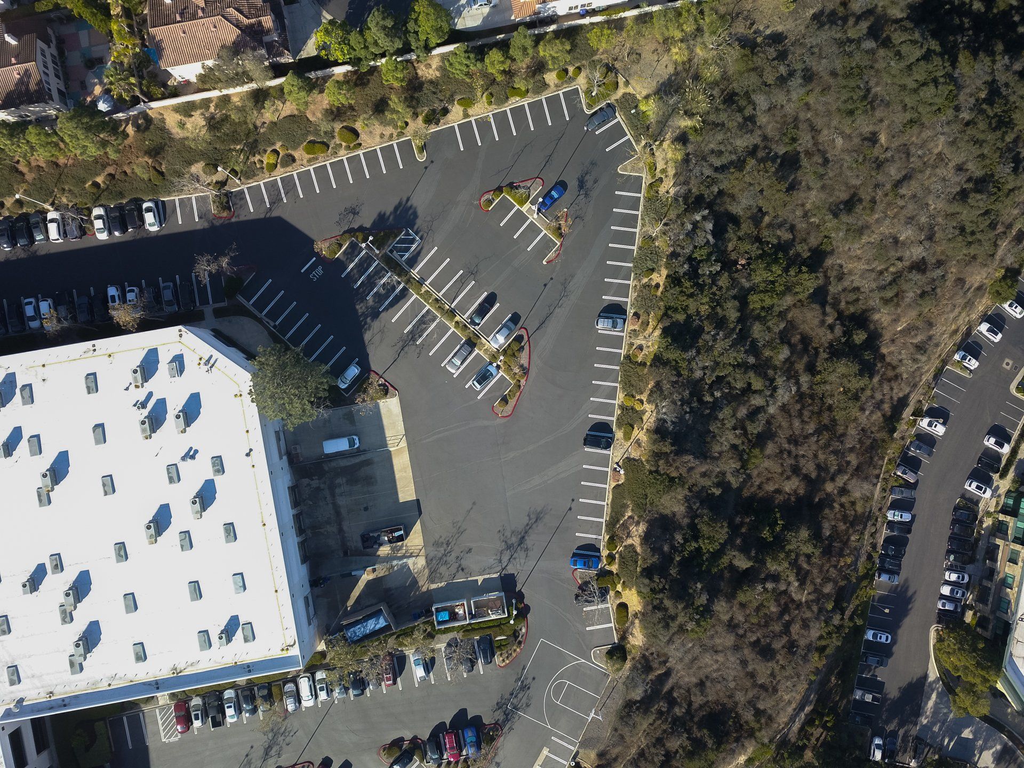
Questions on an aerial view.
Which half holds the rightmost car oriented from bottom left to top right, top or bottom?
top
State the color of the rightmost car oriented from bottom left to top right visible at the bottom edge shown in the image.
black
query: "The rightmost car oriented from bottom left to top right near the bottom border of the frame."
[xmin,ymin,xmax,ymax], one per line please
[389,745,416,768]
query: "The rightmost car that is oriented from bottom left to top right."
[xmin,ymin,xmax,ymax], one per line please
[586,104,616,129]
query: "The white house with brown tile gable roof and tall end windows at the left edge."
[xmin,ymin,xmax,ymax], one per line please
[0,11,66,124]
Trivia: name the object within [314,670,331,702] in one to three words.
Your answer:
car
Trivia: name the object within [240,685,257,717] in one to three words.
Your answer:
car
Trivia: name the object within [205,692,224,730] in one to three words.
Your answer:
vehicle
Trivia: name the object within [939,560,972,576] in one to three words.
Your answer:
vehicle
